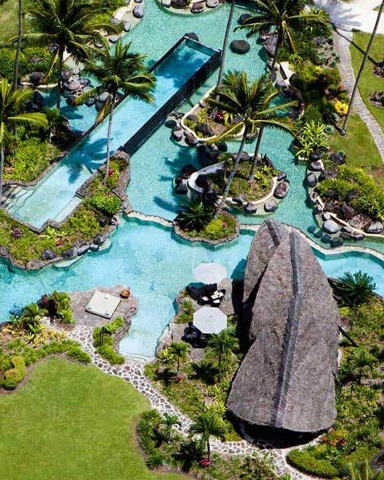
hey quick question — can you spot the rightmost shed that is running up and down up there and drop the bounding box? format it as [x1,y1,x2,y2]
[227,219,342,451]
